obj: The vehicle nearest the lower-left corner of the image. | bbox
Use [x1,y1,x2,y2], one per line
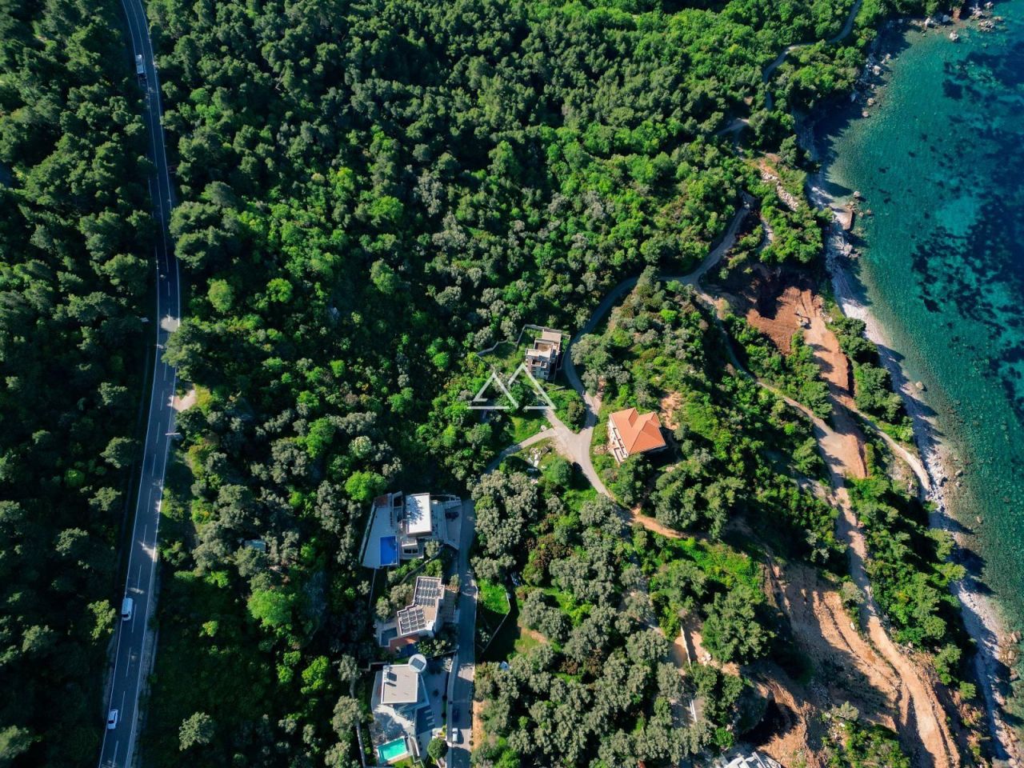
[107,707,120,729]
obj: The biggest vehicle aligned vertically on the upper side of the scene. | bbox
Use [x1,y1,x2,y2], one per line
[134,55,147,79]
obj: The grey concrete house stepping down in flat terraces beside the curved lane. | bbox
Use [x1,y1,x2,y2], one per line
[525,331,561,383]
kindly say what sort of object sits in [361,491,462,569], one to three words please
house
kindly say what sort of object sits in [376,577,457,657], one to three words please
house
